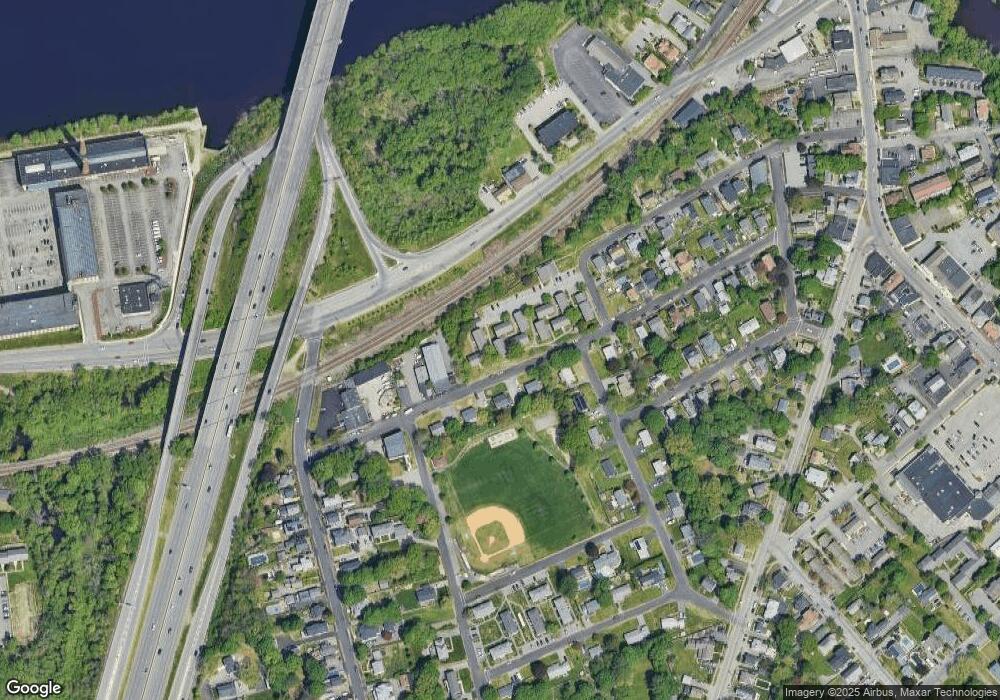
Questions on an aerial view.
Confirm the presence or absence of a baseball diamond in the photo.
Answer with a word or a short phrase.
Yes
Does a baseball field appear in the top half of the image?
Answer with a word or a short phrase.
No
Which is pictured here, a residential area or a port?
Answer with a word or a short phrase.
residential area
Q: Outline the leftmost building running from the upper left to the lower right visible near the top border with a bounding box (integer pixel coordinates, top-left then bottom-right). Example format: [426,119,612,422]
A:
[581,33,643,101]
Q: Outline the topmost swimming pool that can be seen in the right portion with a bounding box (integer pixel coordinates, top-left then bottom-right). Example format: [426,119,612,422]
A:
[882,353,903,372]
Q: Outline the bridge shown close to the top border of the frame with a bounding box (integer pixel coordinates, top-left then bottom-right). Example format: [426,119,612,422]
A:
[284,0,353,118]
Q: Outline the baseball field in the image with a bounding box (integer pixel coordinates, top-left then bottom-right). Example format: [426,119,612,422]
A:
[442,428,601,574]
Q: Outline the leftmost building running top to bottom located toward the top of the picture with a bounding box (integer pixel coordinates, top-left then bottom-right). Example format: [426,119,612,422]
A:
[54,189,99,283]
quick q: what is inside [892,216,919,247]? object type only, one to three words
building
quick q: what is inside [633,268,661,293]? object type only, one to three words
house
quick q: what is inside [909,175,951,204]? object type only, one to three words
building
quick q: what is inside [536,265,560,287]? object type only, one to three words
house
